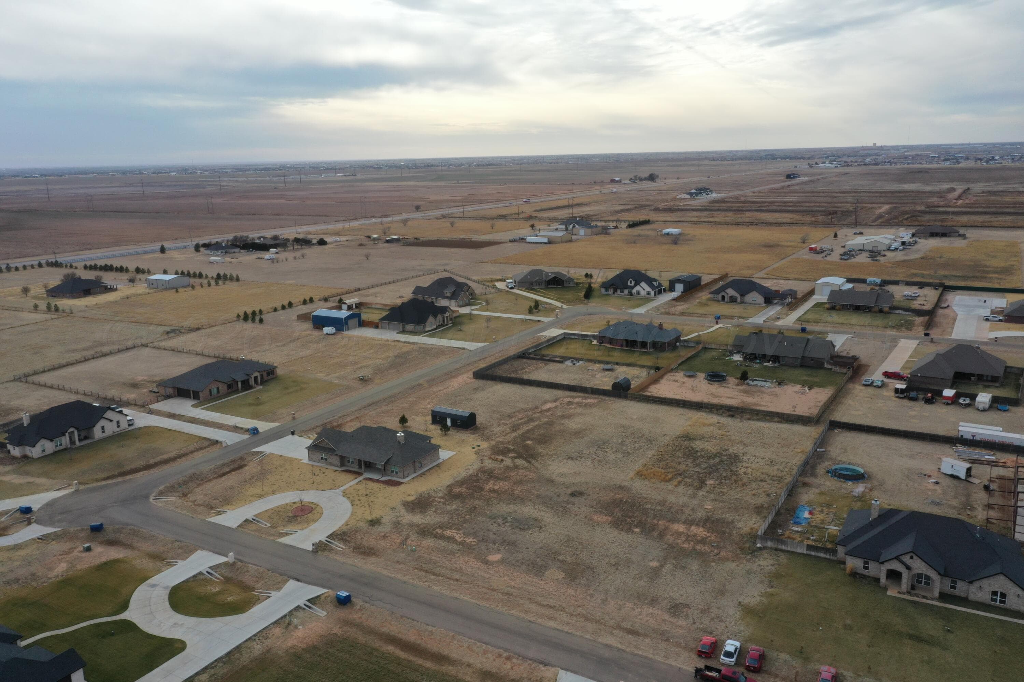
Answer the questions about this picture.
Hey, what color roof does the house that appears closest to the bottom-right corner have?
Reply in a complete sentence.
The roof over the house that appears closest to the bottom-right corner appears black.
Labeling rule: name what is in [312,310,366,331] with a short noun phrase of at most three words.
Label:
shed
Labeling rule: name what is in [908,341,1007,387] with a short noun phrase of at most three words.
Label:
house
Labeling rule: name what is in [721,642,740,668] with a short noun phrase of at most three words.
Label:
car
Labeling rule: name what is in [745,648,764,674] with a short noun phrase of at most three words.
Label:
car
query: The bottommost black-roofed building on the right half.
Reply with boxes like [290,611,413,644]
[830,490,1024,612]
